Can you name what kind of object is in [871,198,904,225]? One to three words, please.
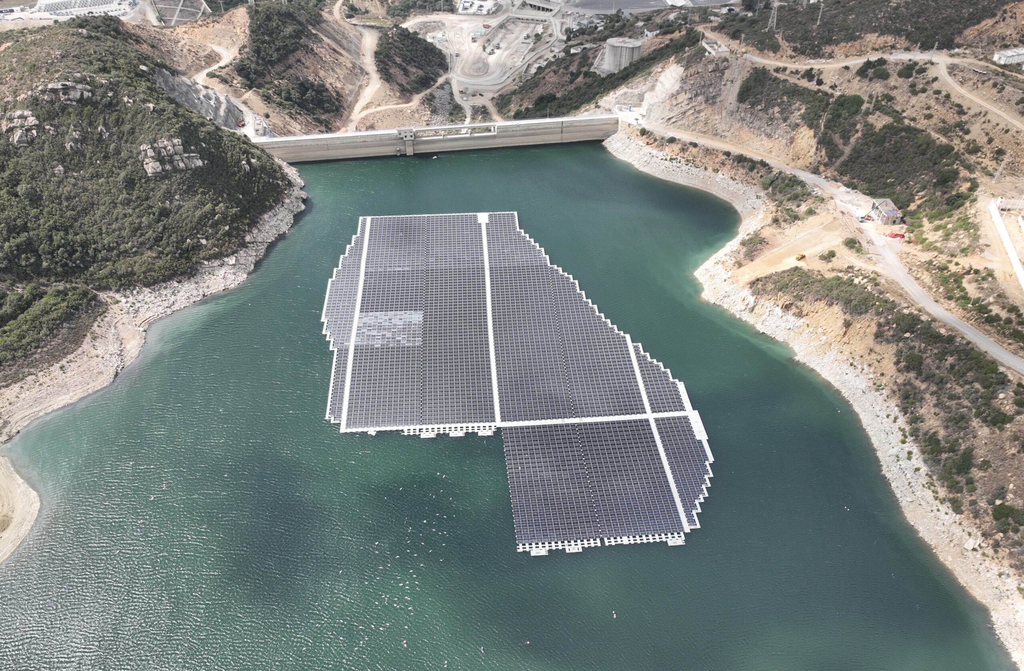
building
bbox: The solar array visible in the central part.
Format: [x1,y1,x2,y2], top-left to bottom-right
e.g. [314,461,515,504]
[320,211,713,555]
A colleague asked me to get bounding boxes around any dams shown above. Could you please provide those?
[247,108,628,162]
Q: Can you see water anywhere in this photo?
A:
Yes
